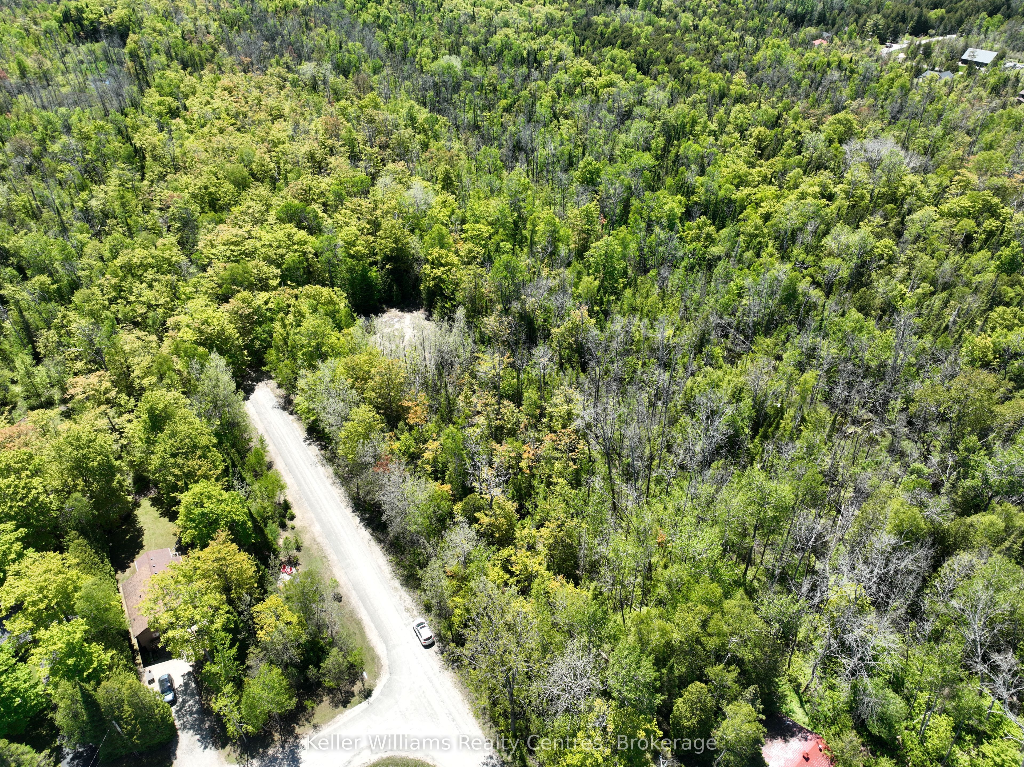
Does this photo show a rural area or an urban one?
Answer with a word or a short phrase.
rural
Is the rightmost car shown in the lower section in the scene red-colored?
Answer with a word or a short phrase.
No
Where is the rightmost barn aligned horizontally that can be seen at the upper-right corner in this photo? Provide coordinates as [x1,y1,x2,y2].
[960,47,1013,70]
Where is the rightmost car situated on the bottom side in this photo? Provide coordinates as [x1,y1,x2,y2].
[414,617,436,650]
